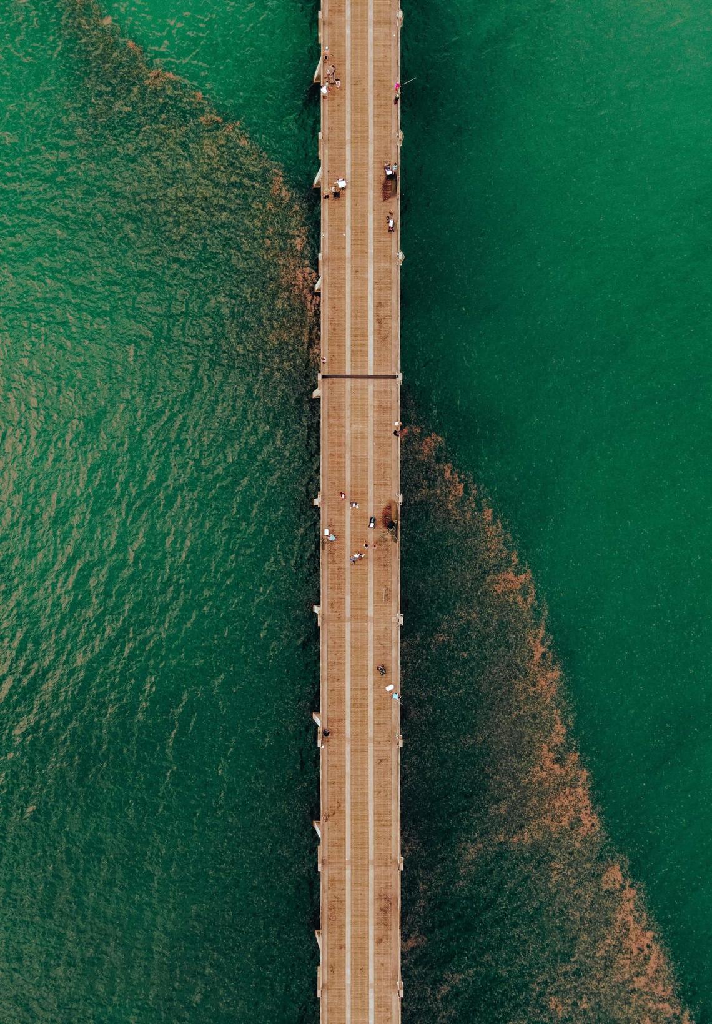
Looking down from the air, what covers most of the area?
water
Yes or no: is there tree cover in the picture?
No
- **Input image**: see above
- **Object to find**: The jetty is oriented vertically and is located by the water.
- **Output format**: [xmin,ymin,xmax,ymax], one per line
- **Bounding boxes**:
[313,0,405,1024]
